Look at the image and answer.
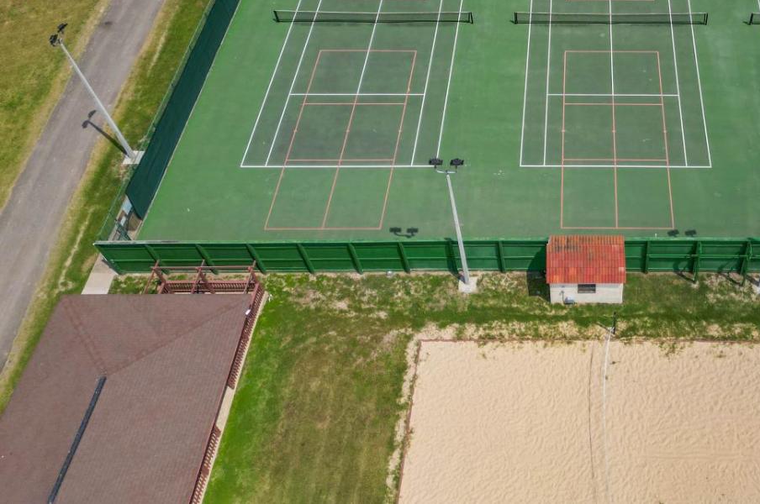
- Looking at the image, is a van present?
No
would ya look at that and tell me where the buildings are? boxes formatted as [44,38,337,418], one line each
[545,230,628,303]
[0,263,269,504]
